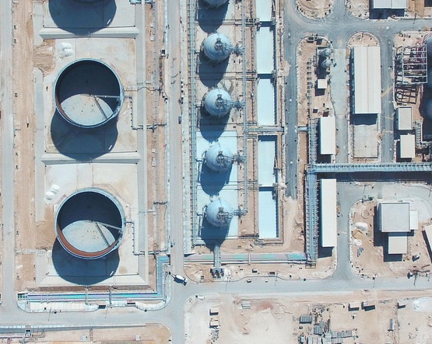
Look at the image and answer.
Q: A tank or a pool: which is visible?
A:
tank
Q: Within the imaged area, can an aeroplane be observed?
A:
No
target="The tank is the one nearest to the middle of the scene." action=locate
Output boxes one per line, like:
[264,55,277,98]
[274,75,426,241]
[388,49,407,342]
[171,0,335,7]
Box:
[196,142,244,180]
